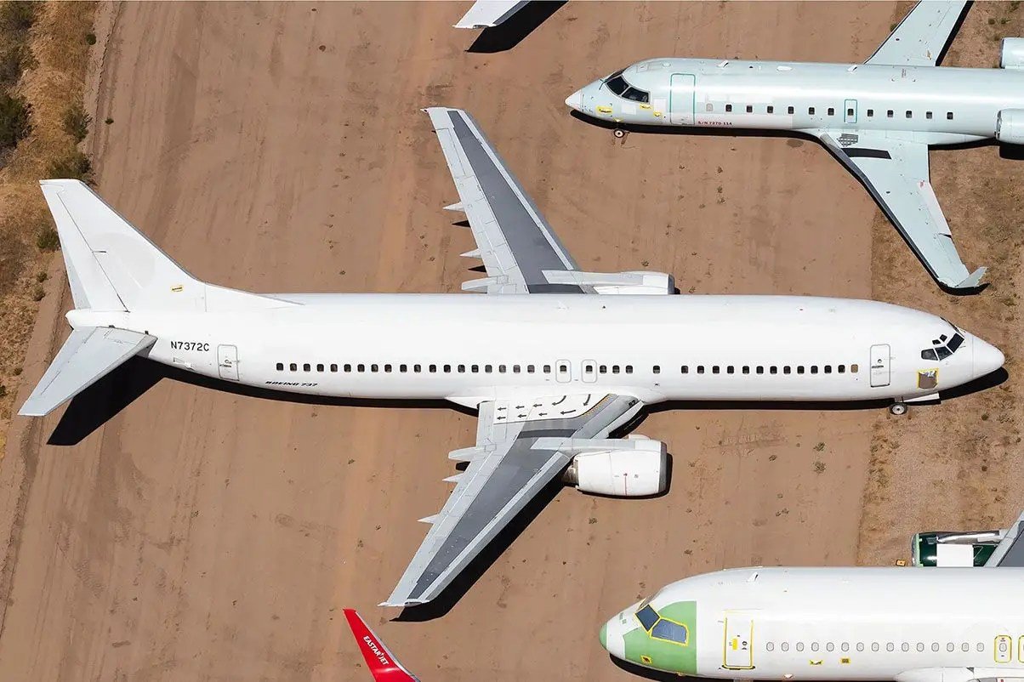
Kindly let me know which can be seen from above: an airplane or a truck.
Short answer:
airplane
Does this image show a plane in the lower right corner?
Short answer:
Yes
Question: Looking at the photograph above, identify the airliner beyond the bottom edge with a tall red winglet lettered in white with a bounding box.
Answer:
[344,608,418,682]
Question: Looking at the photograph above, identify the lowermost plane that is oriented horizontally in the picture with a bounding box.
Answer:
[599,515,1024,682]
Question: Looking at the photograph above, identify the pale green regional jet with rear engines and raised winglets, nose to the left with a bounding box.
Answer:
[565,0,1024,284]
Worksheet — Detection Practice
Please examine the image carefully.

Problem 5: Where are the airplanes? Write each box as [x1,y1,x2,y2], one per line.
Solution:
[19,108,1005,605]
[565,0,1024,284]
[344,608,418,682]
[599,515,1024,682]
[453,0,526,28]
